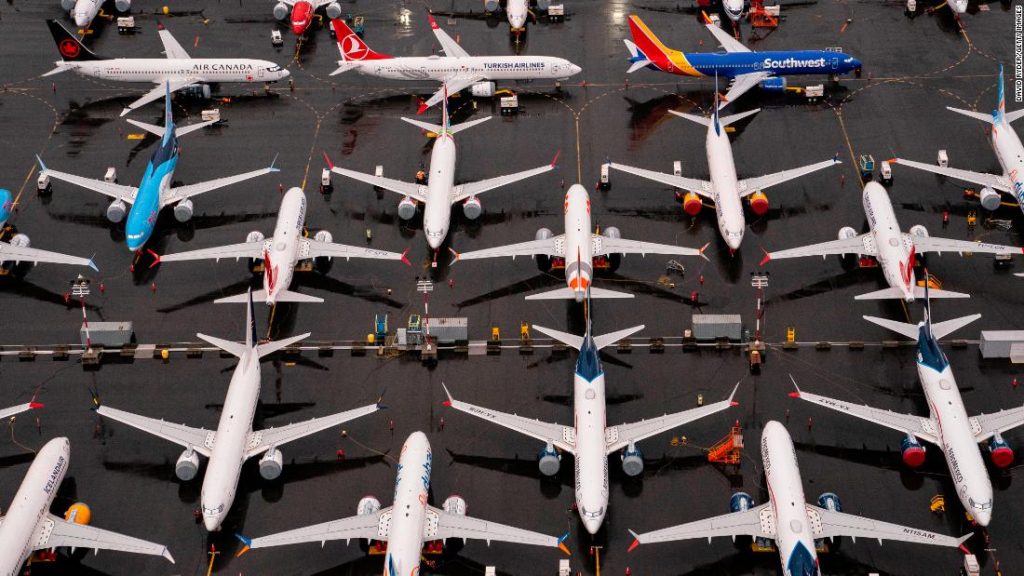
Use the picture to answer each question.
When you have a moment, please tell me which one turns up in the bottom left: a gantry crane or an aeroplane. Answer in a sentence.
You can see an aeroplane in the bottom left.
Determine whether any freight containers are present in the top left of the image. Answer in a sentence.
No, looking in the top left of the image, there is no freight container.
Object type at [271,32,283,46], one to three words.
vehicle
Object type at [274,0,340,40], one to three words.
airplane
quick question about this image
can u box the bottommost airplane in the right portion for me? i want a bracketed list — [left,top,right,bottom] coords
[632,424,969,576]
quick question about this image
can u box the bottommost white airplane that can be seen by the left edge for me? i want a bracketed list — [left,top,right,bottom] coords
[0,439,173,576]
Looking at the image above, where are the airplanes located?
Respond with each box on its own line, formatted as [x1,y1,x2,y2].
[91,285,387,535]
[149,185,410,308]
[890,68,1024,222]
[632,424,969,576]
[274,0,340,40]
[765,180,1024,303]
[602,71,841,249]
[624,11,863,110]
[0,191,99,276]
[40,78,278,255]
[0,385,46,421]
[42,18,289,116]
[944,0,966,19]
[334,15,580,113]
[235,431,569,576]
[447,182,710,304]
[793,274,1024,524]
[0,439,173,576]
[324,77,561,253]
[442,285,740,534]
